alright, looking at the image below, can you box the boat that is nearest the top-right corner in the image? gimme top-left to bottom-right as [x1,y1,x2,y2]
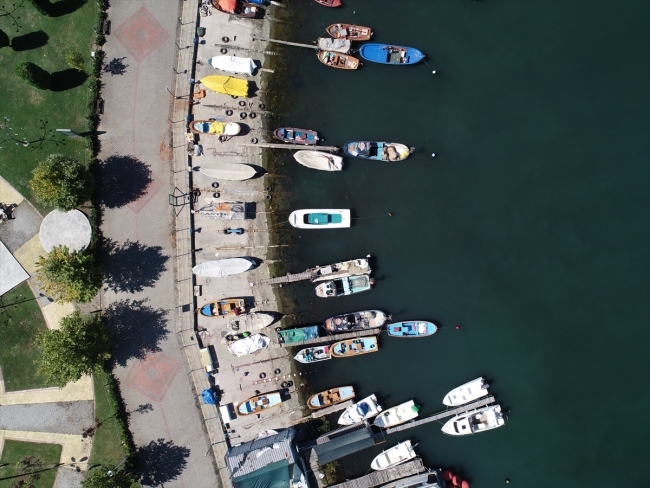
[359,43,425,66]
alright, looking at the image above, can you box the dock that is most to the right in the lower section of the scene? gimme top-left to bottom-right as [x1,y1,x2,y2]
[385,394,496,435]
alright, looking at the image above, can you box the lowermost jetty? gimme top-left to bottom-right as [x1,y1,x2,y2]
[317,457,423,488]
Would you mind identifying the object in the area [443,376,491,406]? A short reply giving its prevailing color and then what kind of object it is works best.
white boat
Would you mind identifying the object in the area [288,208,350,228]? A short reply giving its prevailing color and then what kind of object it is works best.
white boat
